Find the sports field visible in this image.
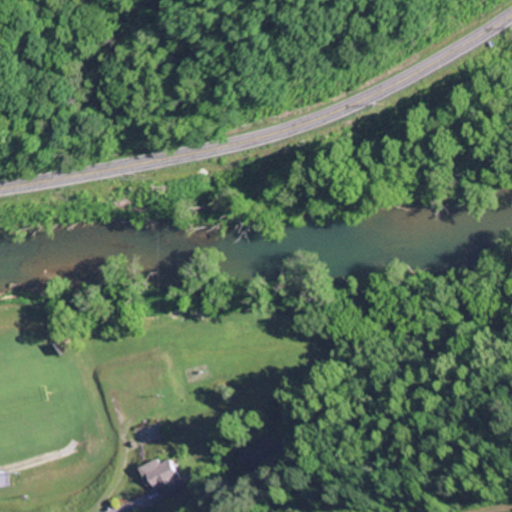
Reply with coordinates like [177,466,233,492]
[0,331,90,465]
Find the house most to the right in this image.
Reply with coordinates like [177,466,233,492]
[138,460,179,488]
